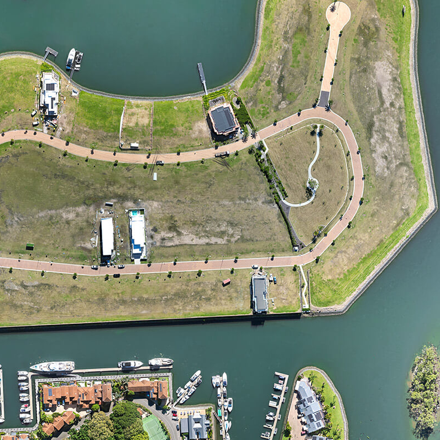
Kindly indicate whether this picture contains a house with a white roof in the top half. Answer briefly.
Yes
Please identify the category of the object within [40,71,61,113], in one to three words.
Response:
house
